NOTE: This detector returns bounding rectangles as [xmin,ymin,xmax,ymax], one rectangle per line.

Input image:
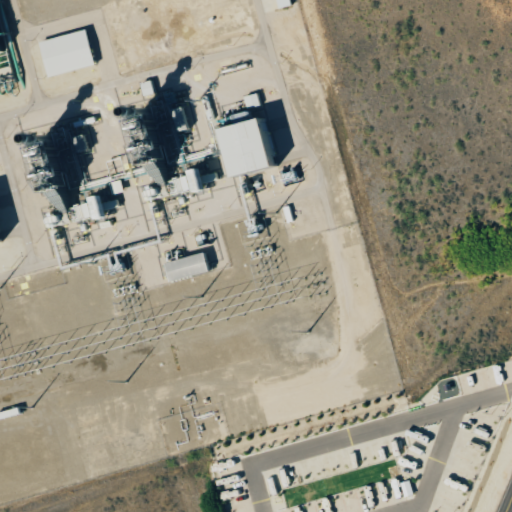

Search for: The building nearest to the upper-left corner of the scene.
[40,30,96,77]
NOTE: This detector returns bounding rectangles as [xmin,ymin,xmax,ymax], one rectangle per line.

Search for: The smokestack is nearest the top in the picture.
[112,104,148,118]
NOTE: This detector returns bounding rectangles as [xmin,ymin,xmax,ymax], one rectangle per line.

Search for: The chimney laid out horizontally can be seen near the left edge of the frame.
[12,130,49,145]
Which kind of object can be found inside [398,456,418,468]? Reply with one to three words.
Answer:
vehicle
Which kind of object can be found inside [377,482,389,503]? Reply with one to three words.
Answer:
vehicle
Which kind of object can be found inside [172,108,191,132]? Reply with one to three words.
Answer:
building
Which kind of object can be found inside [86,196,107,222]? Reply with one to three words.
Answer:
house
